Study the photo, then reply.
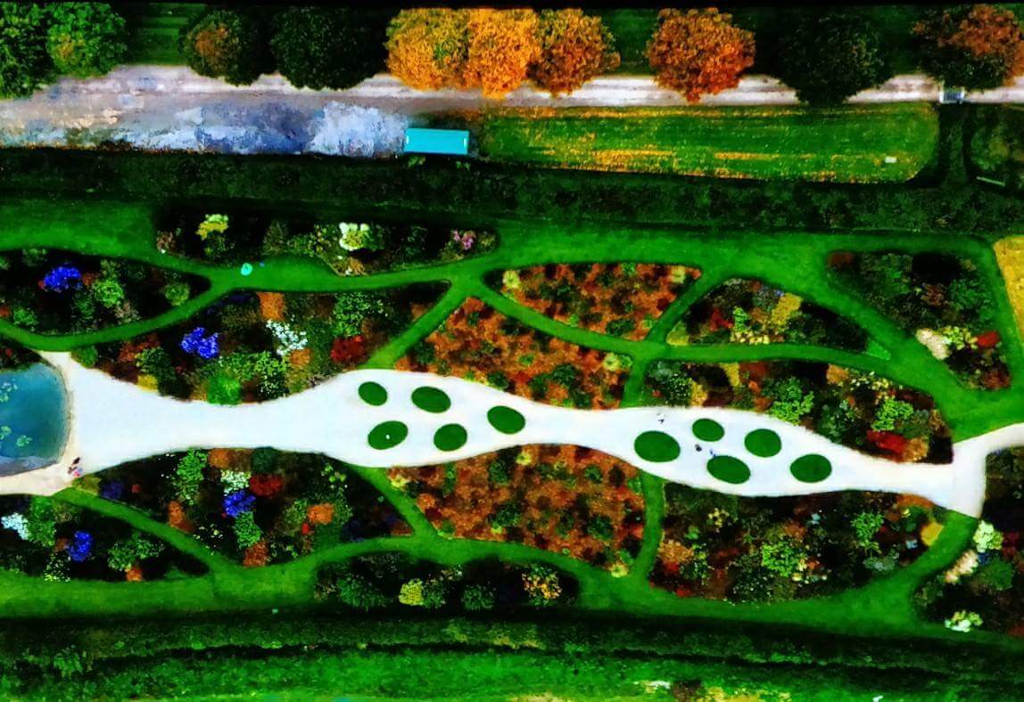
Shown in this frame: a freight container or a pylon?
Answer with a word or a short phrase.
freight container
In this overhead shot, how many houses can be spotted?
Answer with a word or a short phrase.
0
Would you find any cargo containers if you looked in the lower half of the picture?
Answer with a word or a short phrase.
No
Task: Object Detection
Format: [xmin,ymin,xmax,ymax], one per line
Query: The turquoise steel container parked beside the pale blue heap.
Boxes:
[403,126,471,159]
